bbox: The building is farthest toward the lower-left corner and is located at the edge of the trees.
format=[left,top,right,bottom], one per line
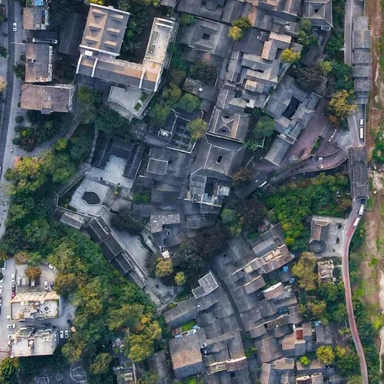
[12,327,62,356]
